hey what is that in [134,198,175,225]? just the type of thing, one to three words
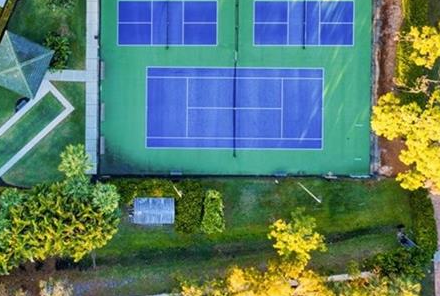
shed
